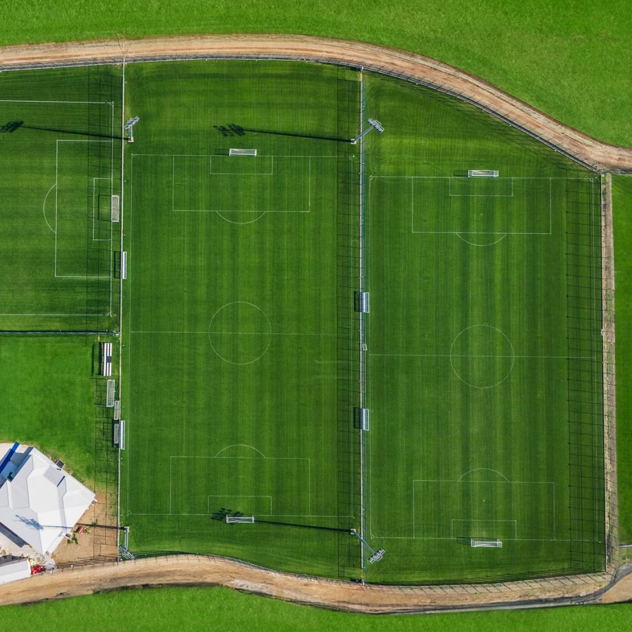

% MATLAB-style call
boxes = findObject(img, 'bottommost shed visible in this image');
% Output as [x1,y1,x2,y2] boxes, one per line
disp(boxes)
[0,559,32,585]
